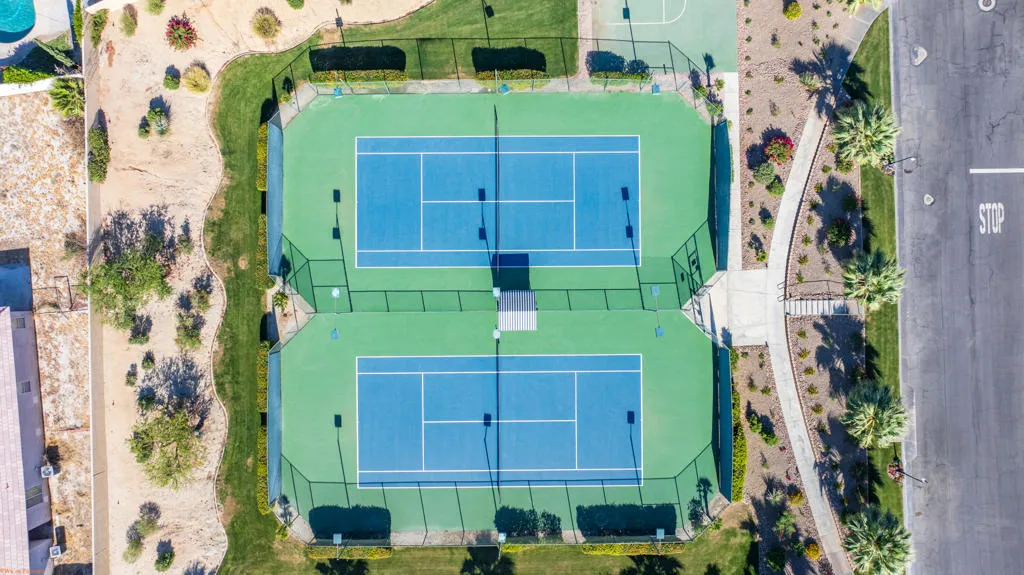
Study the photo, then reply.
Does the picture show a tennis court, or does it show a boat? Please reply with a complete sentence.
It is a tennis court that can be seen here.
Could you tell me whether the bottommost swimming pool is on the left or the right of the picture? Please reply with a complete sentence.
The bottommost swimming pool sits on the left side.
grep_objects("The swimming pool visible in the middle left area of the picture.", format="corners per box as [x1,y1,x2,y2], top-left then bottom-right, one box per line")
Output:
[0,261,33,311]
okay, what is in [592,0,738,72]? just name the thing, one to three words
basketball court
